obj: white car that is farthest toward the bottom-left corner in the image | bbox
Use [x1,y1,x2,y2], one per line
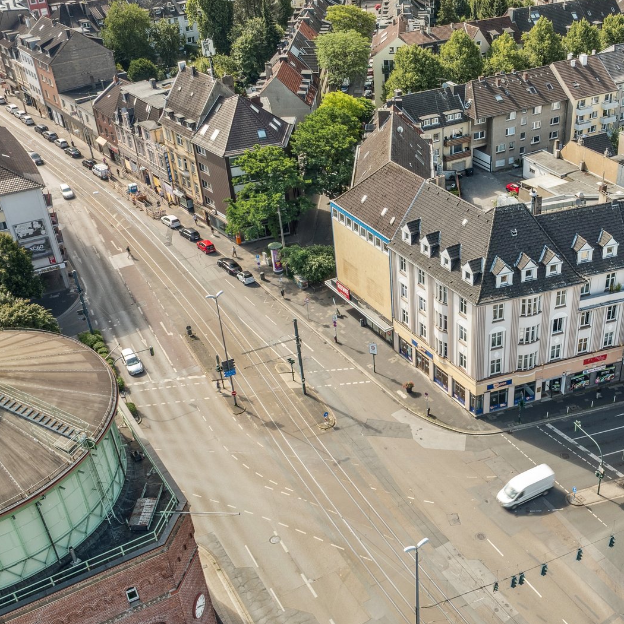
[119,345,144,376]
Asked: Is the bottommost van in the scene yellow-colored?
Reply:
No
